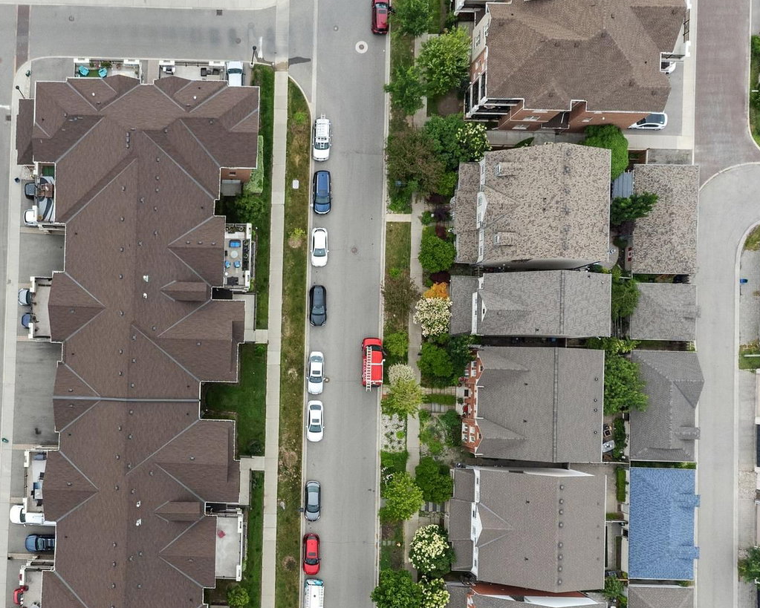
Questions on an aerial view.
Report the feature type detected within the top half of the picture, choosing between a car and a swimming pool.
car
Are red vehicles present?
Yes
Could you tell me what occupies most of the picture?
buildings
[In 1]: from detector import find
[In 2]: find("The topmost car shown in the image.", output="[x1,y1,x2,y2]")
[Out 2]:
[370,0,391,36]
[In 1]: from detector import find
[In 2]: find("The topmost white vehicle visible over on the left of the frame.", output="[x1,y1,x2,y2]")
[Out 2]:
[225,59,245,84]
